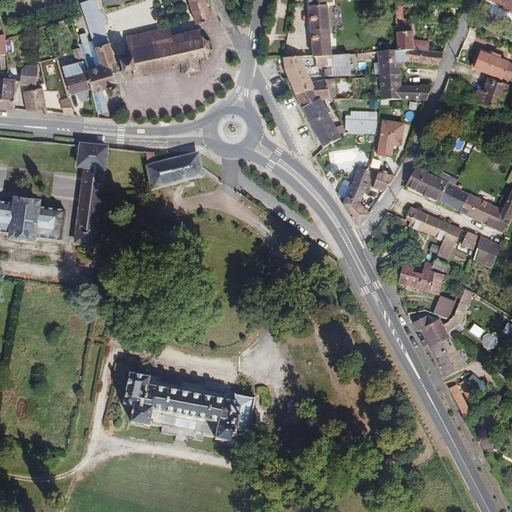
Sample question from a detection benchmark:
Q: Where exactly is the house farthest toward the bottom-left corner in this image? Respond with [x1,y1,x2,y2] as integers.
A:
[122,372,254,445]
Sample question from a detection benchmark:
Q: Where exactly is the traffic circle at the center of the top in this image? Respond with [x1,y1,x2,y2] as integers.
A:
[218,114,248,144]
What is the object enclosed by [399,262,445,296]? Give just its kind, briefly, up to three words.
house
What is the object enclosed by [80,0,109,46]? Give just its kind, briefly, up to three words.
barn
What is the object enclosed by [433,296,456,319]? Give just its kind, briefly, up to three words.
building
